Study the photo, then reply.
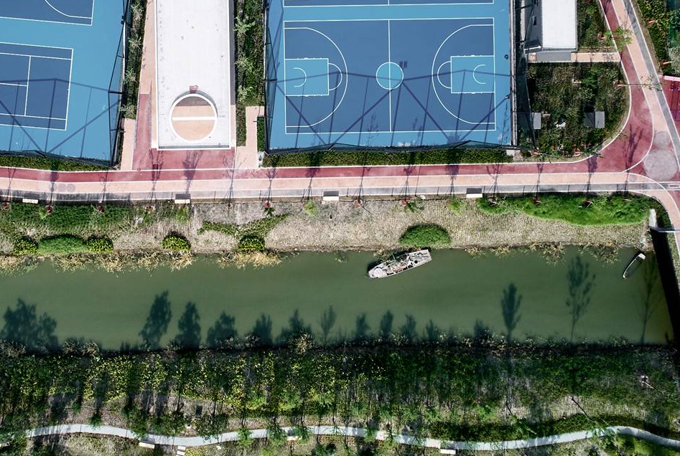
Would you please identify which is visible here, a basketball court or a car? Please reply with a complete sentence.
Of the two, only a basketball court appears.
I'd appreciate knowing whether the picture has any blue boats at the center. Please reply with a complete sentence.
No, no blue boat is visible at the center.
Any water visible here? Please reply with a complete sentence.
Yes, the picture does contain water.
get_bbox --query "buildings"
[514,0,579,62]
[151,0,235,150]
